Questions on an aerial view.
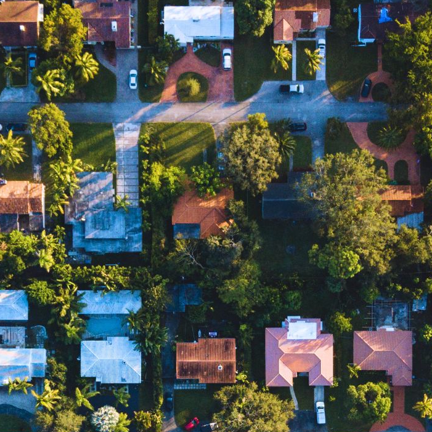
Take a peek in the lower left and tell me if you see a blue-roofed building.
Yes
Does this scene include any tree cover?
Yes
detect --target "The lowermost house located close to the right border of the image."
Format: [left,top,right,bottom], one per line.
[352,328,412,387]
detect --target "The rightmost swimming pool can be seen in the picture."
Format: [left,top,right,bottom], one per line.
[83,316,125,335]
